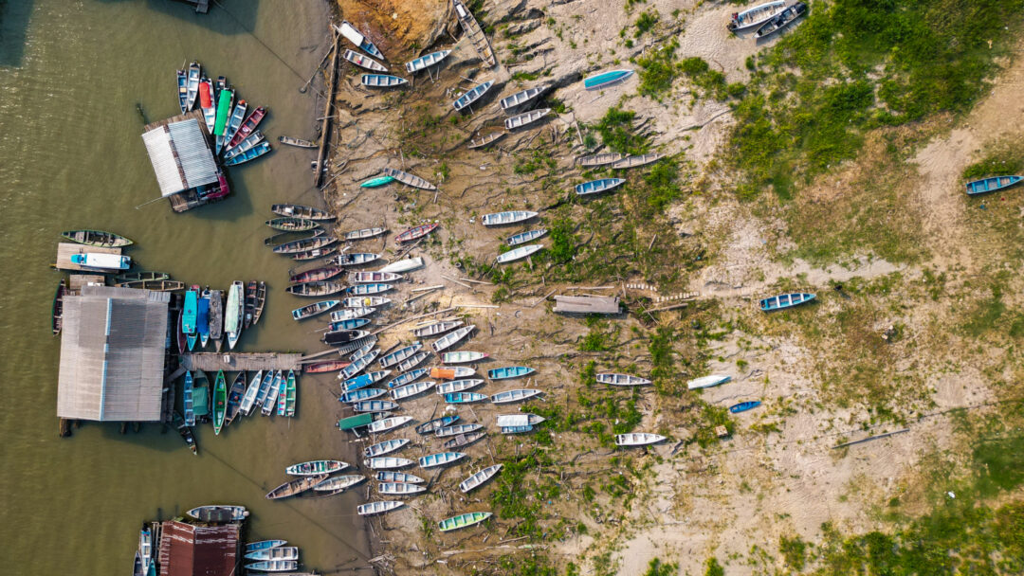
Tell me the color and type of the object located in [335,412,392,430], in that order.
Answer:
green boat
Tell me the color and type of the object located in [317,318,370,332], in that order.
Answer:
blue boat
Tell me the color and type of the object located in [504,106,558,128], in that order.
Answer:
white boat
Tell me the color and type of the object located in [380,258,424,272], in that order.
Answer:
white boat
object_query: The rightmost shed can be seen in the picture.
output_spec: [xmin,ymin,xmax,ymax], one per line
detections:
[552,297,624,313]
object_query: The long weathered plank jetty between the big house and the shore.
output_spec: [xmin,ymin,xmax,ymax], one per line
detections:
[180,353,302,371]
